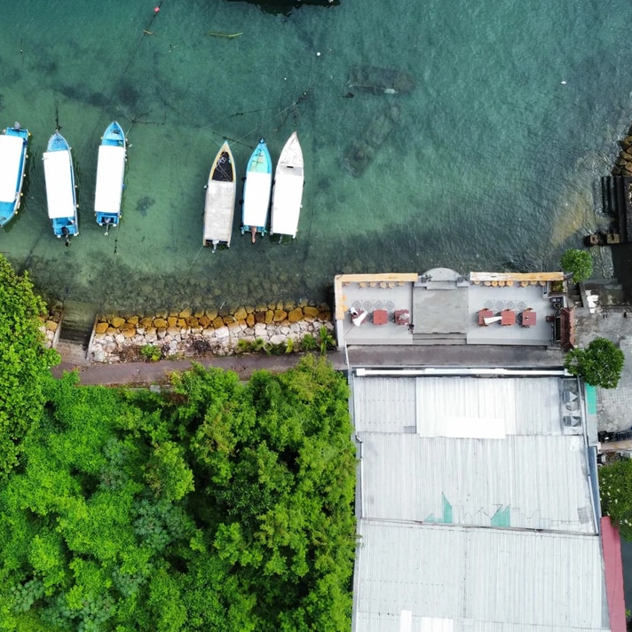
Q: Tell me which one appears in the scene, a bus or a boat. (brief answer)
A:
boat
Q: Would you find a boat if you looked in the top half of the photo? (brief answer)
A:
Yes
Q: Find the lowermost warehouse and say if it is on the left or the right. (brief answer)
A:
right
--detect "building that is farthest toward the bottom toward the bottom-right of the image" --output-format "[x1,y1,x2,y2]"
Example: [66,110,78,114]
[343,366,624,632]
